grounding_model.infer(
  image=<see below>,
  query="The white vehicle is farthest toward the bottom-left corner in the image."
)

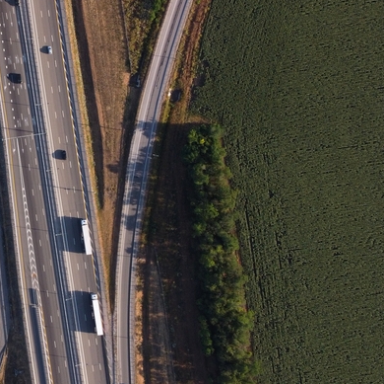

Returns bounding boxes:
[91,293,104,335]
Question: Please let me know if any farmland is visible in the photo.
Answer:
Yes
